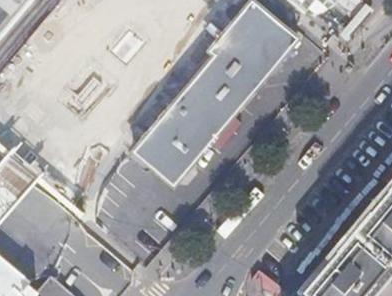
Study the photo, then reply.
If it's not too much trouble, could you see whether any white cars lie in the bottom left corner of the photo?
Yes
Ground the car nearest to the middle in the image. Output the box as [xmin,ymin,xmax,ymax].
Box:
[197,148,215,168]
